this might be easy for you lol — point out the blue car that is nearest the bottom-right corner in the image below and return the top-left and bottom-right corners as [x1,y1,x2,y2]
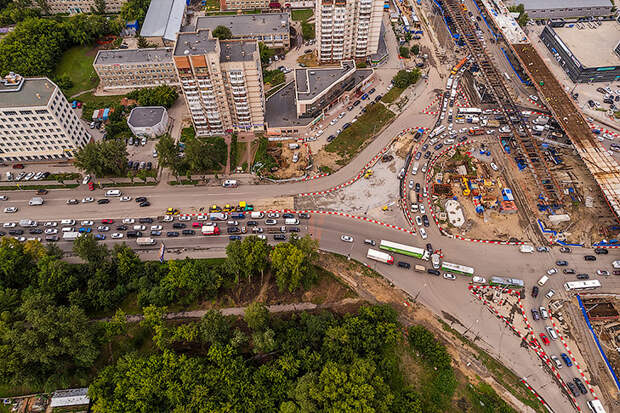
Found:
[560,352,573,368]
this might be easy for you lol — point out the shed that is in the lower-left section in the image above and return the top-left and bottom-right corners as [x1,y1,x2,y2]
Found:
[48,386,94,408]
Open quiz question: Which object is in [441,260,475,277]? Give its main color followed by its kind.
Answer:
white vehicle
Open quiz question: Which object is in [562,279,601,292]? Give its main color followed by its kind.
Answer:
white vehicle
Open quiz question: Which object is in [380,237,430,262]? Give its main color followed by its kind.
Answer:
white truck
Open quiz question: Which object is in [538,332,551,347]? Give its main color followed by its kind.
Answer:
red vehicle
